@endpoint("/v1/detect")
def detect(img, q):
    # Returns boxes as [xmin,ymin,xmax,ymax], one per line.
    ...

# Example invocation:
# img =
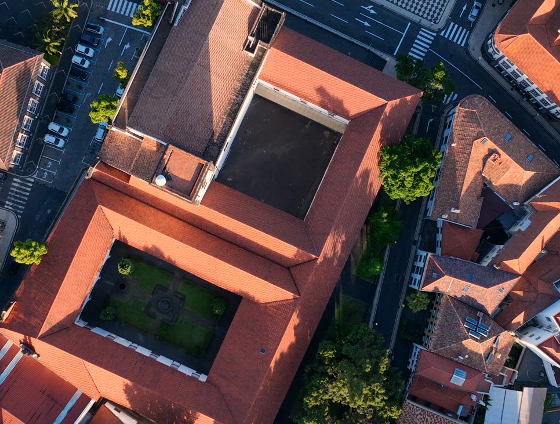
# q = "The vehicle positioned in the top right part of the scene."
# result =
[466,0,482,25]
